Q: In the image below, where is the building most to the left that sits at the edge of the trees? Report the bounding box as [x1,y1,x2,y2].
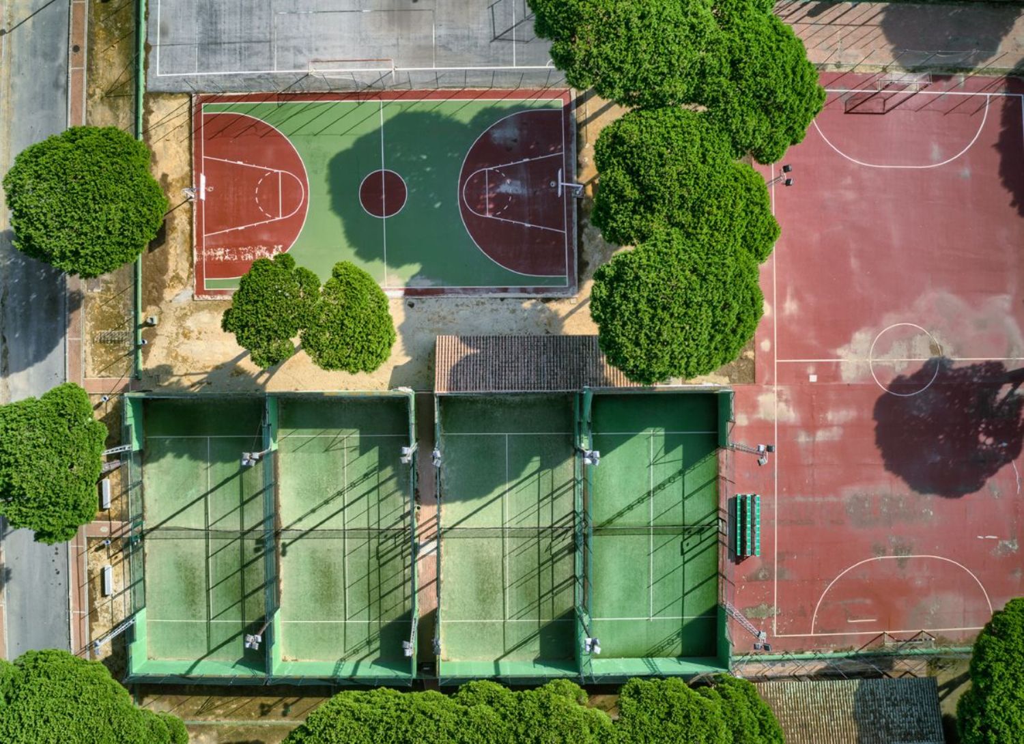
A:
[434,335,650,392]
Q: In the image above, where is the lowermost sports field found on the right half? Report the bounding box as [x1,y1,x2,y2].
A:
[730,71,1024,658]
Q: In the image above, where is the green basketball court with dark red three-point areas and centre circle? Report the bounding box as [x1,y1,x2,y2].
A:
[194,88,578,300]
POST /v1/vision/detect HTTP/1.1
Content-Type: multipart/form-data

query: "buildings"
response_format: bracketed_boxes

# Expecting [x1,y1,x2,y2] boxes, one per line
[434,335,650,392]
[749,676,950,744]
